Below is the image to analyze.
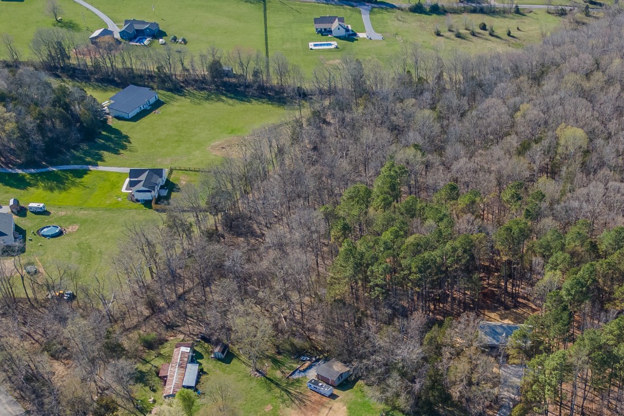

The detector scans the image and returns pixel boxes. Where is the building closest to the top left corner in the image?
[89,26,122,45]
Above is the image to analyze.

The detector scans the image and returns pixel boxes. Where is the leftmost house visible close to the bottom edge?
[155,343,199,399]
